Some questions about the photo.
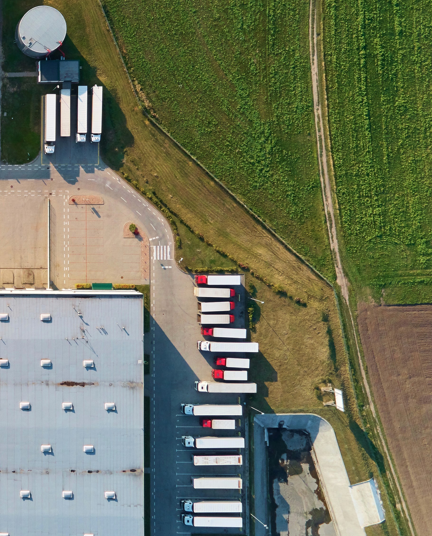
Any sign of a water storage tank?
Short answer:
Yes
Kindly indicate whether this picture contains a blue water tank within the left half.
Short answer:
No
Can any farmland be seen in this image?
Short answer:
Yes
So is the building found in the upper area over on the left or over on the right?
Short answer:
left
